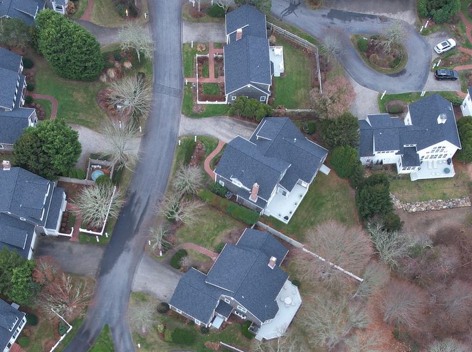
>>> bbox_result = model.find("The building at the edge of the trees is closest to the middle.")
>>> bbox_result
[214,116,329,225]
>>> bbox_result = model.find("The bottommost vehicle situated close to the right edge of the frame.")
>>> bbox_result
[432,67,460,81]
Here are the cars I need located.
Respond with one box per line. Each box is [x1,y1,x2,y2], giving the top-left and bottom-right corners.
[432,67,460,81]
[432,38,458,55]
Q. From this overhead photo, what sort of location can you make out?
residential area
